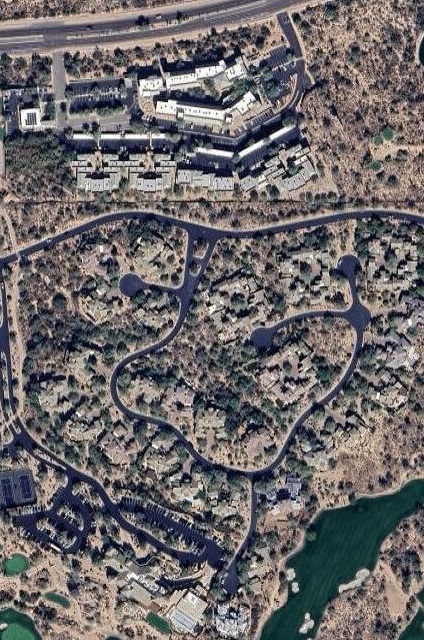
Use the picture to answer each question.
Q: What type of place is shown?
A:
residential area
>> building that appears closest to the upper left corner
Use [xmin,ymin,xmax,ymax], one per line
[21,109,57,130]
